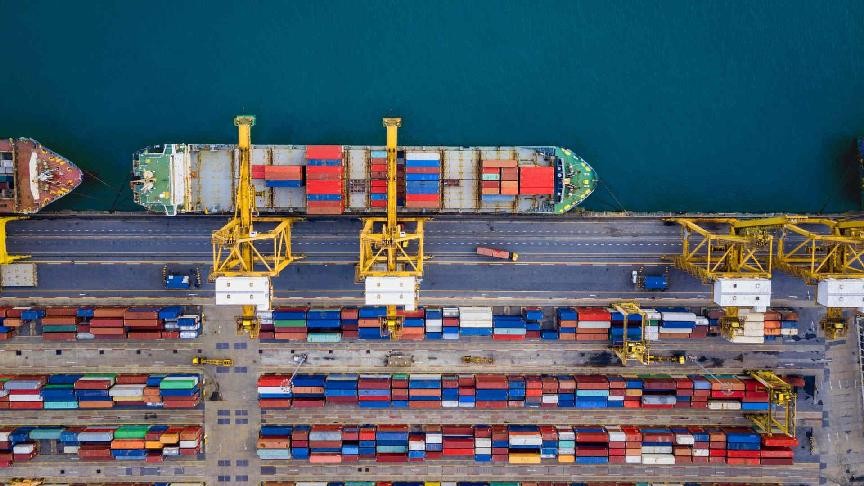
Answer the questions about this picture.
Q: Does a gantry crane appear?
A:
Yes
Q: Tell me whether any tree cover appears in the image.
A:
No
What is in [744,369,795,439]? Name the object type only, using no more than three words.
container crane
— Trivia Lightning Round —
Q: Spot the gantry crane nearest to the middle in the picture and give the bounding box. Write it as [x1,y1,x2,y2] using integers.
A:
[354,112,433,343]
